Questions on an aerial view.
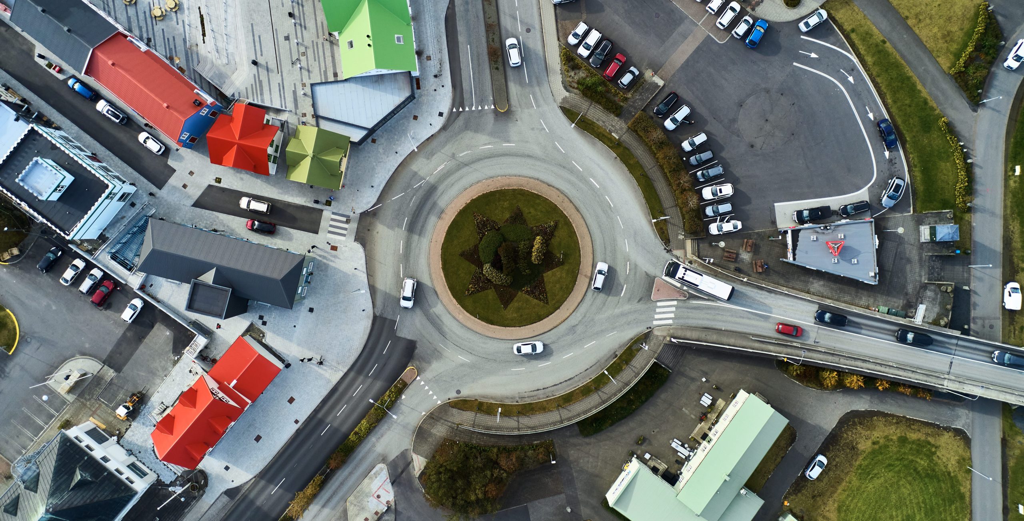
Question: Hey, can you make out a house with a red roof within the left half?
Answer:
Yes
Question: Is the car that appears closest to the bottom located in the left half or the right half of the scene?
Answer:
right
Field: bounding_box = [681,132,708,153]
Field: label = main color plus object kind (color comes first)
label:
white car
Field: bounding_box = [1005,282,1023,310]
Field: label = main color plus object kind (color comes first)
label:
white vehicle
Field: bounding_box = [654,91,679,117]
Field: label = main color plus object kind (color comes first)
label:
black car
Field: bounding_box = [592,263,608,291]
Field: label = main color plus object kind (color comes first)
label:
white car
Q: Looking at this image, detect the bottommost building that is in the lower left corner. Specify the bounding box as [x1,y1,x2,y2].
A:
[0,411,165,521]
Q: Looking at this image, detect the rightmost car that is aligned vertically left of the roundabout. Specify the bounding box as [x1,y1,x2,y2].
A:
[401,278,415,307]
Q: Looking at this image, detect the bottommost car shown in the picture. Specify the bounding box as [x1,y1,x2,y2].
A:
[805,454,826,480]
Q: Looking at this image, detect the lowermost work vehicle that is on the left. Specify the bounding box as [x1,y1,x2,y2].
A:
[115,389,149,419]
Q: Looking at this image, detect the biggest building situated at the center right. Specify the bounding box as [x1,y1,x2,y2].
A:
[776,217,880,286]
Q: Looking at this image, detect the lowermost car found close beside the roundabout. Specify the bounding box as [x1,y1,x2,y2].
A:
[514,341,543,355]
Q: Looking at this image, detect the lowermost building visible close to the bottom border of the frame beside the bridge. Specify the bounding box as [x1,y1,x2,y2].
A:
[606,389,789,521]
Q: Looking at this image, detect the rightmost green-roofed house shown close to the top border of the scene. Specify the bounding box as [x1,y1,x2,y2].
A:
[322,0,419,79]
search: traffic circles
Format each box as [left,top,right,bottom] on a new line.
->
[428,175,594,340]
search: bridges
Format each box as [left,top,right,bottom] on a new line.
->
[653,253,1024,406]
